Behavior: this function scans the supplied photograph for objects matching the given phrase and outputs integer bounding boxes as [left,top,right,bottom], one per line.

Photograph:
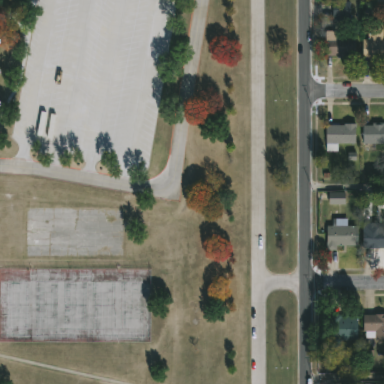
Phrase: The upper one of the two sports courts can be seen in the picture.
[27,208,123,256]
